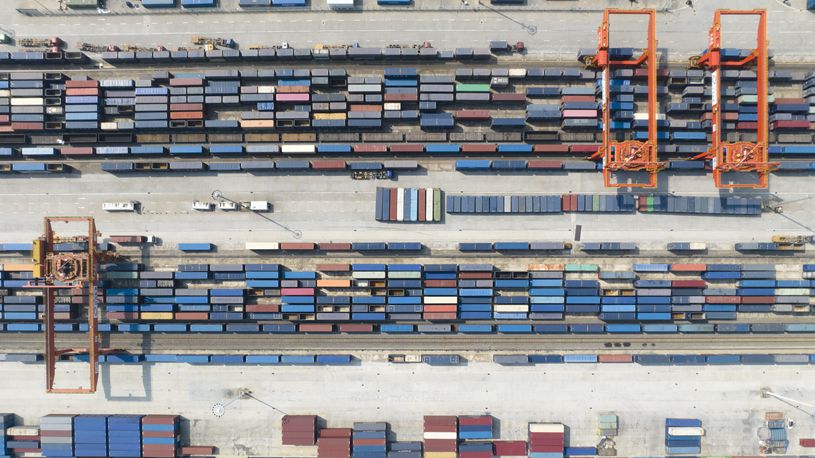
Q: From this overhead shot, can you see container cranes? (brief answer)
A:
Yes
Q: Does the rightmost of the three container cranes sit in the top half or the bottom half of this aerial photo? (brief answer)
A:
top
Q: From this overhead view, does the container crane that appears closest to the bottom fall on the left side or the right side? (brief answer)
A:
left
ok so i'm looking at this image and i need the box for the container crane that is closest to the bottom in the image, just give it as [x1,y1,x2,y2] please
[22,217,121,393]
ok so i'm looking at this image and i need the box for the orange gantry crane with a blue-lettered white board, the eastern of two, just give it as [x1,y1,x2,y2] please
[684,9,779,189]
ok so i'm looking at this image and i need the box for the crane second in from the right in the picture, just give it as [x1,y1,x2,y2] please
[580,7,668,188]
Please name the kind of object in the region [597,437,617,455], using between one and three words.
vehicle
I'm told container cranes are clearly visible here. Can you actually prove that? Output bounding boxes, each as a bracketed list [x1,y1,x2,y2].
[684,9,779,189]
[580,7,668,188]
[22,217,121,393]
